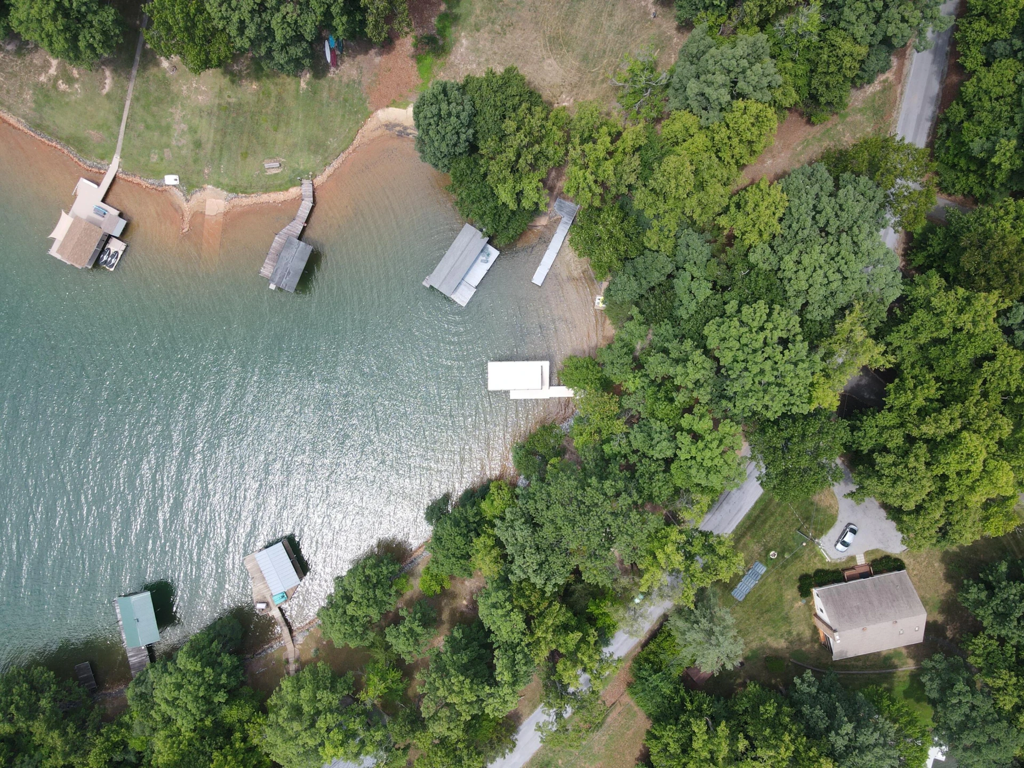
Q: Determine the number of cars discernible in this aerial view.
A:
one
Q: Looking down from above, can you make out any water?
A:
Yes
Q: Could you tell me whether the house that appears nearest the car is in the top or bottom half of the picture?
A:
bottom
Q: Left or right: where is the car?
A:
right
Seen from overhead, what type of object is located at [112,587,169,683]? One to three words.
building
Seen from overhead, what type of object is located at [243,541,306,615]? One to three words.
building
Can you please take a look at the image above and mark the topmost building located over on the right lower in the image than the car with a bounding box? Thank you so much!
[808,560,927,662]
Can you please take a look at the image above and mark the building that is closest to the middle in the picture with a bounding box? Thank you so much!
[488,361,549,399]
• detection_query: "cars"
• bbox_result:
[834,522,856,552]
